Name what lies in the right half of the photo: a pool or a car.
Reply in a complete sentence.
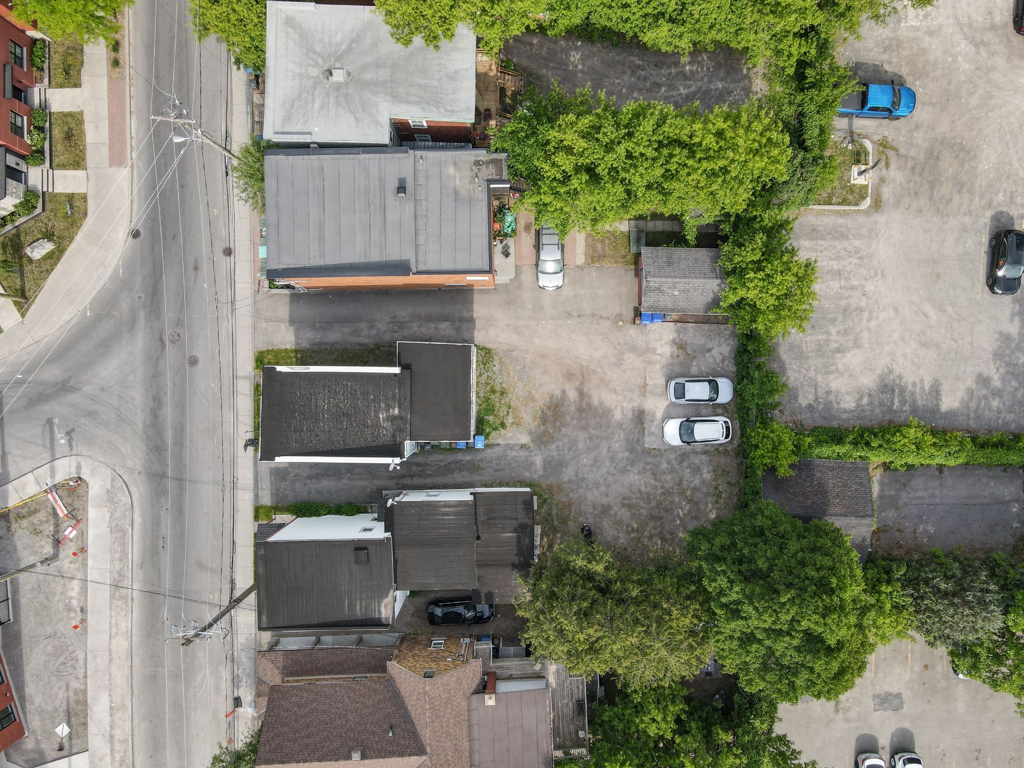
The feature located in the right half of the photo is a car.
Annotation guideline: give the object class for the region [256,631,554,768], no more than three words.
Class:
house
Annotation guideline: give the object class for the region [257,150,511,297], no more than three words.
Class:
building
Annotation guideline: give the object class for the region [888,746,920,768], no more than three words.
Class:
car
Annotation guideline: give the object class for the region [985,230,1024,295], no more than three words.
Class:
car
